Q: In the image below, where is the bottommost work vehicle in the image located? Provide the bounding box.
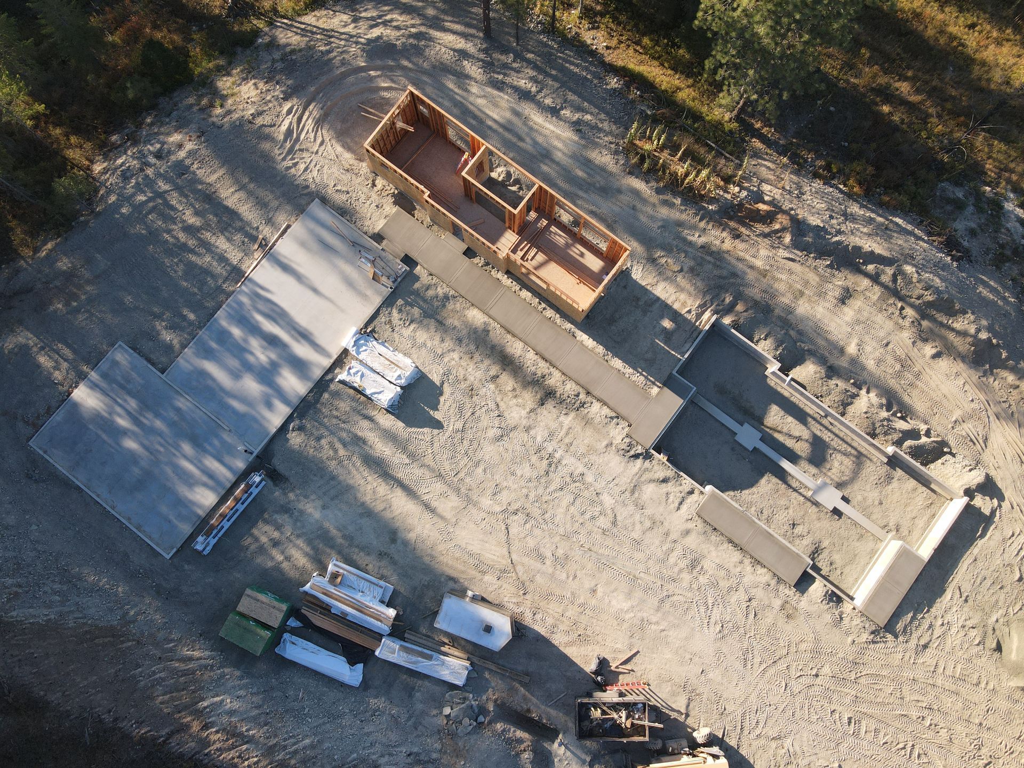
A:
[634,727,728,768]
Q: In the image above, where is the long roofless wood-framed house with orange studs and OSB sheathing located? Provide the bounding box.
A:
[363,89,630,323]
